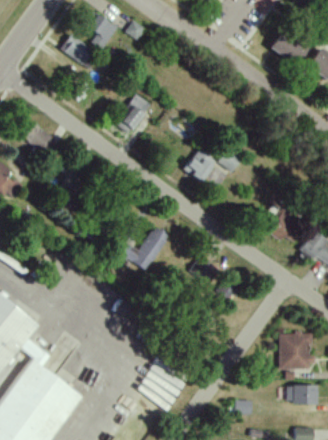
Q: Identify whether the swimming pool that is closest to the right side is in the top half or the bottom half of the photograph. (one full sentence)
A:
Seen from above, the swimming pool that is closest to the right side lies in the top half of the view.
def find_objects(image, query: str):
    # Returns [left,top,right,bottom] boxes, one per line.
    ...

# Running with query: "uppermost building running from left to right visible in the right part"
[272,40,310,58]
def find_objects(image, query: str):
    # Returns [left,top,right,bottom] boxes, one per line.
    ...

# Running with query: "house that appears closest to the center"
[124,228,167,270]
